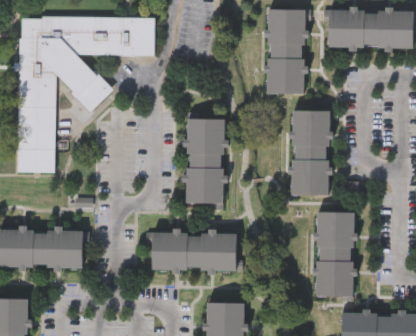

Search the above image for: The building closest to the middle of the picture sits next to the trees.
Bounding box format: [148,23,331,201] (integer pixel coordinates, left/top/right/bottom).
[184,118,229,209]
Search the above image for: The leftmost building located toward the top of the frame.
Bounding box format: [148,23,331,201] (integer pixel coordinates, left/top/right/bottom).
[14,16,156,174]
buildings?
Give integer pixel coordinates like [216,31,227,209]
[0,298,32,336]
[0,226,90,270]
[151,228,243,274]
[314,211,359,300]
[265,7,312,93]
[204,302,249,336]
[342,310,416,336]
[184,118,229,209]
[326,6,416,51]
[76,194,95,208]
[289,109,334,195]
[14,16,156,174]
